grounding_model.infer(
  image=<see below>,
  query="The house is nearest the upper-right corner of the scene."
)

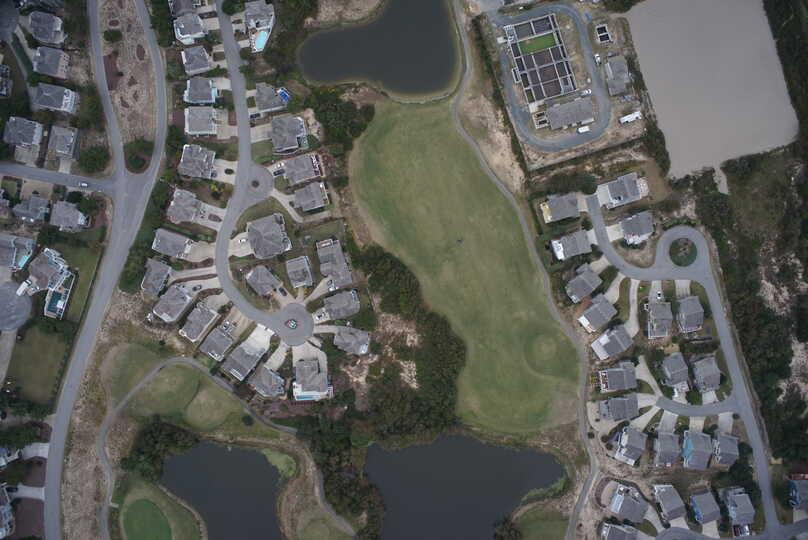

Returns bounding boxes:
[600,55,634,98]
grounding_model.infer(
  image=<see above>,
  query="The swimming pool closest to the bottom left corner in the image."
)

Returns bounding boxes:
[43,288,68,318]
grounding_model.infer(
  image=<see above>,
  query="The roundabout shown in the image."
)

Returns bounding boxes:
[656,224,711,278]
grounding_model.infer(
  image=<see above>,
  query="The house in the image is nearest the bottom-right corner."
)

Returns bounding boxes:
[780,471,808,509]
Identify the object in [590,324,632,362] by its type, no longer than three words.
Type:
house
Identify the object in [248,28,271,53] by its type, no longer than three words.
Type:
swimming pool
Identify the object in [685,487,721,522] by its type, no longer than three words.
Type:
house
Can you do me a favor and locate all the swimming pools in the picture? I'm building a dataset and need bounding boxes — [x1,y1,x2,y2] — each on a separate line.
[43,288,68,318]
[279,86,292,99]
[248,28,271,53]
[17,248,33,268]
[294,388,327,401]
